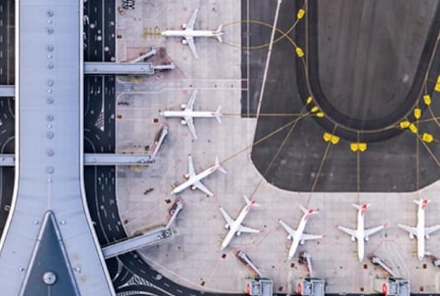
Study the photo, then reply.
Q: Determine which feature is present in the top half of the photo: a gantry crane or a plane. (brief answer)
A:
plane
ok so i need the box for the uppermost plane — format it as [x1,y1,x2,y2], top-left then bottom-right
[160,6,224,59]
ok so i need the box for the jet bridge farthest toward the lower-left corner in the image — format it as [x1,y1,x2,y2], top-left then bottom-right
[165,201,182,230]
